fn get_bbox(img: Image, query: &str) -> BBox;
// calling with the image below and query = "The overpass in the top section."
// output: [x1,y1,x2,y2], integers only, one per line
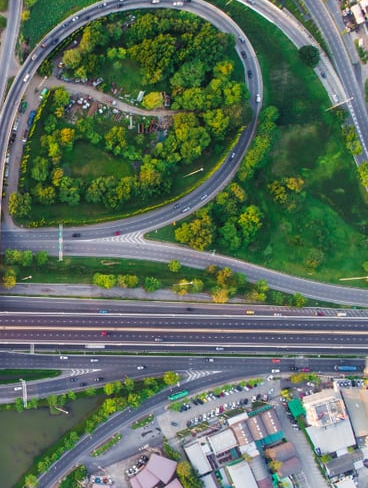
[0,0,264,260]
